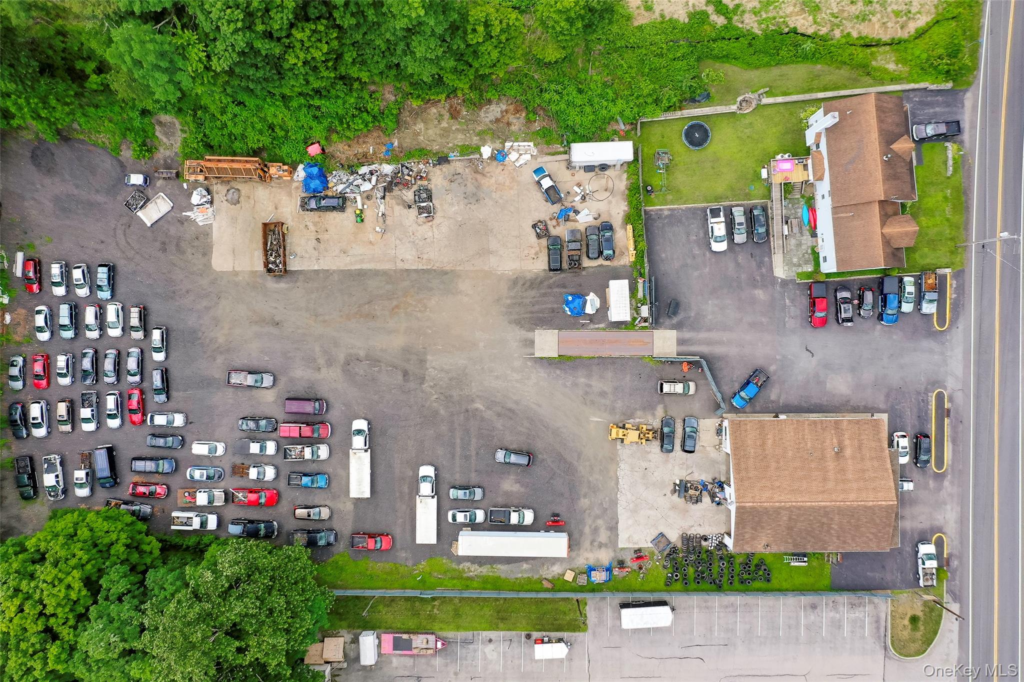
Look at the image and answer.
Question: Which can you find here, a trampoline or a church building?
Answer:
trampoline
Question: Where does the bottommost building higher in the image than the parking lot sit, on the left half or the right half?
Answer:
right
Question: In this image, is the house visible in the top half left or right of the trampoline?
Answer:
to its right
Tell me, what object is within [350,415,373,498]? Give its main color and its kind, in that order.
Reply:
white truck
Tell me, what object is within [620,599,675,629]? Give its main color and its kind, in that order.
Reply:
white trailer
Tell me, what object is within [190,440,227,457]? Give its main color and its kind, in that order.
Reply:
white vehicle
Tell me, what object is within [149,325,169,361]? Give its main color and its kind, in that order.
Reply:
white car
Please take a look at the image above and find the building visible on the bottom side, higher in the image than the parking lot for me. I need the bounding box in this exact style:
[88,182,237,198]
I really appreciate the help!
[720,418,900,553]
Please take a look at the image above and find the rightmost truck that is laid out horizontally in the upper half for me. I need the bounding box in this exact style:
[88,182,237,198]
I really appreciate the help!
[910,118,963,143]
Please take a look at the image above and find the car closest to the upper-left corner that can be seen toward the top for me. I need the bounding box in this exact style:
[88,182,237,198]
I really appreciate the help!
[125,171,151,188]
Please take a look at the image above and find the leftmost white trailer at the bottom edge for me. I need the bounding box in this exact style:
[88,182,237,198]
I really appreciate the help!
[359,626,381,666]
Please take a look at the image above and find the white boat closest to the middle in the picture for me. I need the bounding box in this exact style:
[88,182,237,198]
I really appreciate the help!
[582,291,602,314]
